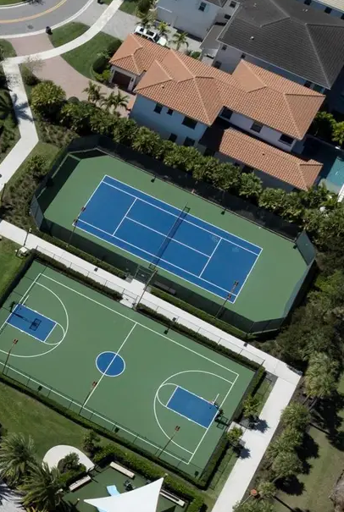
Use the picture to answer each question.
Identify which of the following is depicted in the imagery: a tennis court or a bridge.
tennis court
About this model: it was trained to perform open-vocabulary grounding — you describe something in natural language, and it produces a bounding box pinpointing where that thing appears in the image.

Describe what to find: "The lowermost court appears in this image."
[0,261,255,475]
